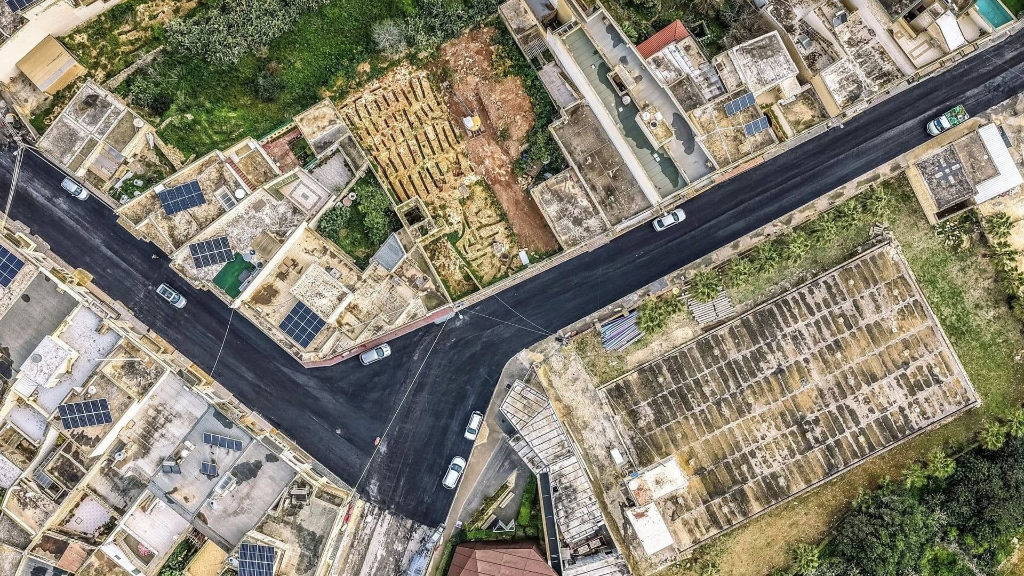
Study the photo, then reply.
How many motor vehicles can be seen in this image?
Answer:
8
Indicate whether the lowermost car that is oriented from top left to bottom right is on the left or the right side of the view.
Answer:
left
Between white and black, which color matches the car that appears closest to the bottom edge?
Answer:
white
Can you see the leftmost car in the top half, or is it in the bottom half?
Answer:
top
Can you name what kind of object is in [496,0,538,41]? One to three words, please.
house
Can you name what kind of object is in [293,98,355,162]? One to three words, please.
house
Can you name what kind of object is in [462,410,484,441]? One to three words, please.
car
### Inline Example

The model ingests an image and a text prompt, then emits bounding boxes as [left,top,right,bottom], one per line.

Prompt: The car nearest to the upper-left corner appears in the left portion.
[57,175,89,201]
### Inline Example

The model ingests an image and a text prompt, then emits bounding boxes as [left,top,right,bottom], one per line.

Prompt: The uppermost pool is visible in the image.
[968,0,1017,34]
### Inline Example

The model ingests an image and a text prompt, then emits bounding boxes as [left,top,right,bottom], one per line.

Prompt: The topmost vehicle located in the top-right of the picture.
[930,106,970,132]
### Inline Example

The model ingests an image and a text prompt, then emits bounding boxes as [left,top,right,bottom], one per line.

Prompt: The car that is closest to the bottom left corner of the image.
[153,282,185,309]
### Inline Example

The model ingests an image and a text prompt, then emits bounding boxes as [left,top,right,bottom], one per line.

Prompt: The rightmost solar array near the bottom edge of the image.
[239,543,275,576]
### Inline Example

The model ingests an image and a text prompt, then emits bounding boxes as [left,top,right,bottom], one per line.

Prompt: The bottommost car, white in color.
[443,457,464,490]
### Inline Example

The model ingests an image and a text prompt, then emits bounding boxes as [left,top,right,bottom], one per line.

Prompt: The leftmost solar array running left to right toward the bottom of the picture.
[58,398,113,429]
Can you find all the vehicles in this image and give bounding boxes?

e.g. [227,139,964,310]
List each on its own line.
[653,207,686,232]
[930,106,970,132]
[153,282,185,309]
[441,80,486,144]
[443,457,464,490]
[462,410,484,441]
[358,344,391,365]
[57,175,89,201]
